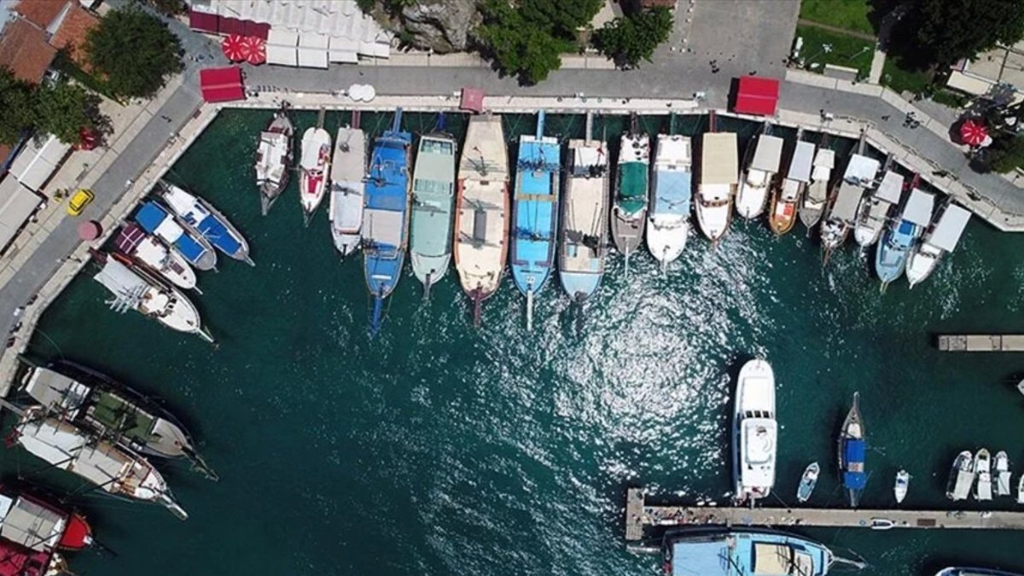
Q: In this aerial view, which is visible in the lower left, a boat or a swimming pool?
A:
boat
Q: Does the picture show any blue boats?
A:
Yes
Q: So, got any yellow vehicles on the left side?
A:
Yes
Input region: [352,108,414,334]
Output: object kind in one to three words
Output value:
boat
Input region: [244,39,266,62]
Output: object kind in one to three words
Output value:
umbrella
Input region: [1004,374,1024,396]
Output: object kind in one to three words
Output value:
boat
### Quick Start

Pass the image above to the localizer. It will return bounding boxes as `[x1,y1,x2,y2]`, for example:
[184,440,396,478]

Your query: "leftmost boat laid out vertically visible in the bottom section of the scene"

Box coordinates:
[731,359,789,511]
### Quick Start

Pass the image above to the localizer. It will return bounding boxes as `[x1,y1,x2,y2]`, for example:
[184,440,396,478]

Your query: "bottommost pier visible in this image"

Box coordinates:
[626,487,1024,540]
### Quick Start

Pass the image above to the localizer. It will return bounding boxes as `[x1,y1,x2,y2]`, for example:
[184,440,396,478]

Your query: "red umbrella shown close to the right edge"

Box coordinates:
[959,120,988,145]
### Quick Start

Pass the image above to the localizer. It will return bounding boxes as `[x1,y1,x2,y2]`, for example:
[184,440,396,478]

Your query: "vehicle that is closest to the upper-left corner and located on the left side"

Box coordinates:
[63,186,93,217]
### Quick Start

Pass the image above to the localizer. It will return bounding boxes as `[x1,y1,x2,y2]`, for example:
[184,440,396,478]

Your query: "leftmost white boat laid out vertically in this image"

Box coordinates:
[249,101,301,214]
